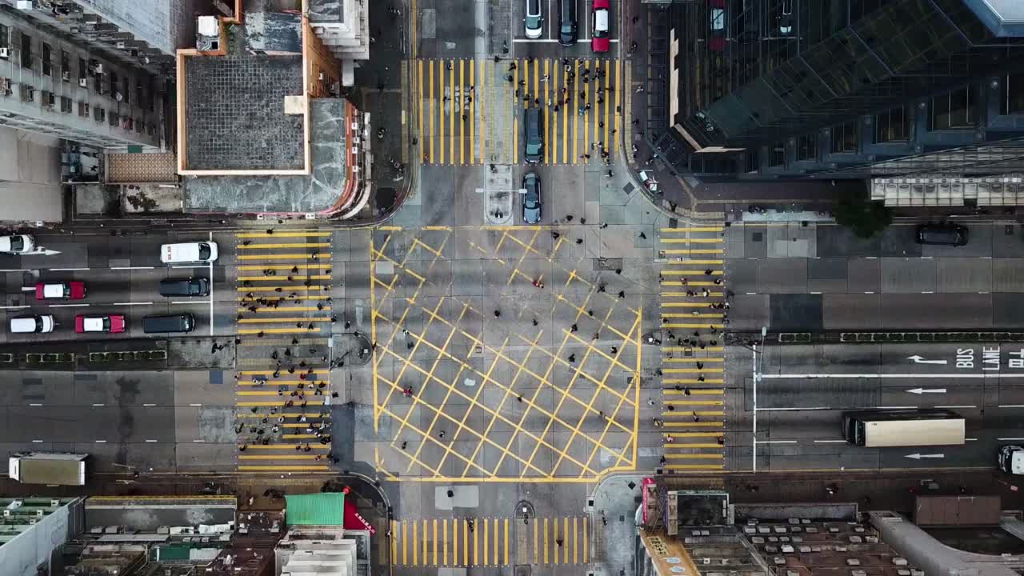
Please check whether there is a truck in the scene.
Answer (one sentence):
Yes, the picture does show a truck.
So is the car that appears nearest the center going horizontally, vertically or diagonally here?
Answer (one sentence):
The car that appears nearest the center is laid out vertically.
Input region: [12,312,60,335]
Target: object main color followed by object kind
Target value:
white car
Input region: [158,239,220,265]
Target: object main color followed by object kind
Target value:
white vehicle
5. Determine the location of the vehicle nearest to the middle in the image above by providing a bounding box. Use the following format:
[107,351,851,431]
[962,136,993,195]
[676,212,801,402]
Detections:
[519,171,544,224]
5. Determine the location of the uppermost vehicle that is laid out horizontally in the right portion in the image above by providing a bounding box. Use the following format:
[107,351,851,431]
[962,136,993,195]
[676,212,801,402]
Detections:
[838,411,966,446]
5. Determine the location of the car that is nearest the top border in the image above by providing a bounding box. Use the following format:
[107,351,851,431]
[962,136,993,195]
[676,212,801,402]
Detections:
[588,0,612,54]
